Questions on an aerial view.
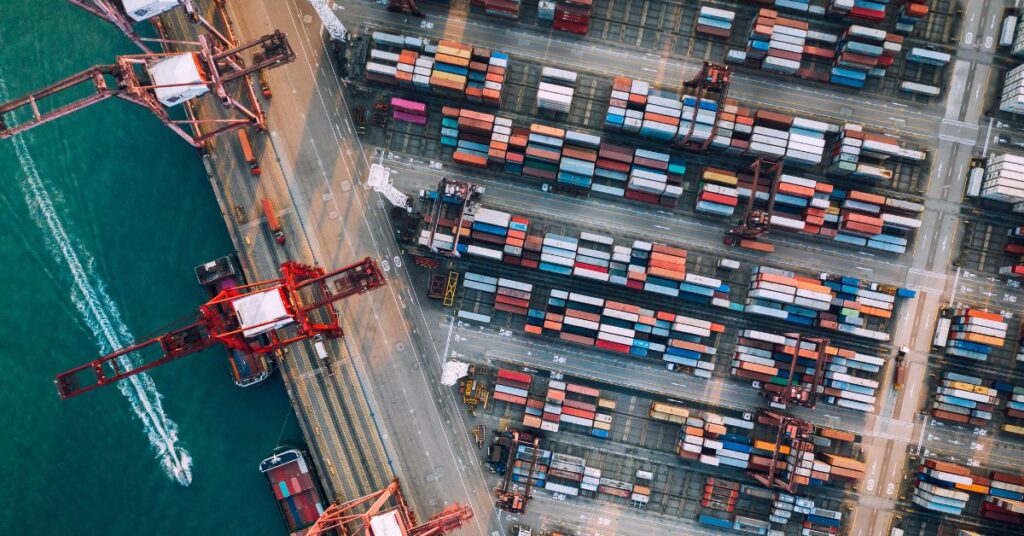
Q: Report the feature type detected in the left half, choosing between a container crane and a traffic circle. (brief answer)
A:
container crane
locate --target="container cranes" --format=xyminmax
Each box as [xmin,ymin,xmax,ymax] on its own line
[427,179,478,259]
[496,426,543,518]
[304,480,482,536]
[675,63,731,152]
[744,406,808,496]
[761,328,827,411]
[723,156,784,241]
[38,0,238,73]
[0,16,299,160]
[55,252,387,404]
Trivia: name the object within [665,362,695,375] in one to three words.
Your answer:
vehicle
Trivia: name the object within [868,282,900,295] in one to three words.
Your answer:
vehicle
